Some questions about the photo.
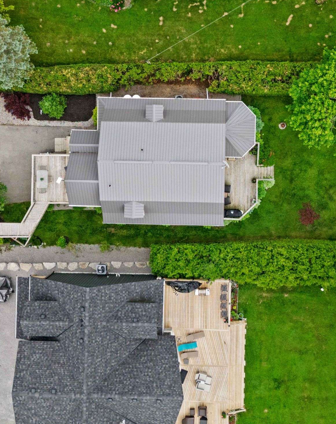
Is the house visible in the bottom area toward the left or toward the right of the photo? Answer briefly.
left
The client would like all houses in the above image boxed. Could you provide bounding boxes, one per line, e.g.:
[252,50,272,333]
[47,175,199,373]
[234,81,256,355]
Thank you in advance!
[64,96,257,227]
[12,271,183,424]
